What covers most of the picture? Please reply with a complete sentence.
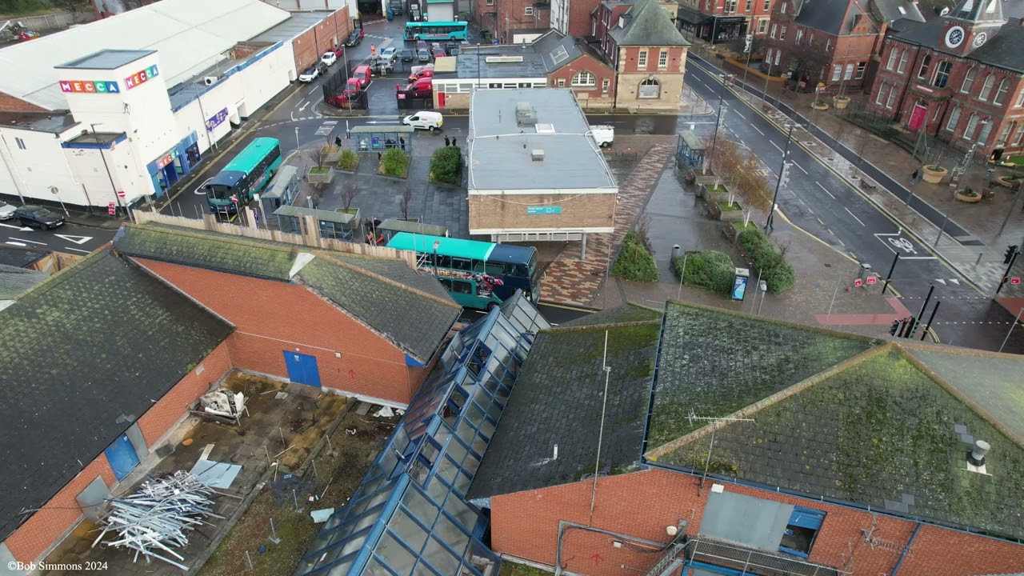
Most of the picture is covered by buildings.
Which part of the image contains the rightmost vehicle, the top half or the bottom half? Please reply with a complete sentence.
The rightmost vehicle sits in the top half of the picture.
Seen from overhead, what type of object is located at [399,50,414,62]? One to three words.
vehicle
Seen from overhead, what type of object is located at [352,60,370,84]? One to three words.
vehicle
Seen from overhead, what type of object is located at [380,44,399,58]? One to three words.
car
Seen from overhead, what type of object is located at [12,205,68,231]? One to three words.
car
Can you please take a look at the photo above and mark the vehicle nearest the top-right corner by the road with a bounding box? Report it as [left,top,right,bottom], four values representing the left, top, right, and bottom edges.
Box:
[590,126,621,148]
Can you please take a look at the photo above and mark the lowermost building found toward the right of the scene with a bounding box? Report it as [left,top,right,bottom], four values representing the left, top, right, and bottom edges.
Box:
[461,298,1024,576]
